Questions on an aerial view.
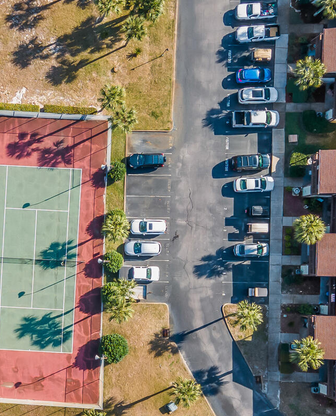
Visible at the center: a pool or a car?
car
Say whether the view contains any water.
No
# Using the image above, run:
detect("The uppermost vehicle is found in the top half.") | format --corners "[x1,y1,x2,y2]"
[234,0,280,22]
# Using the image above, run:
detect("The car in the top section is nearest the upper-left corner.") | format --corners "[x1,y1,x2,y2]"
[128,151,167,169]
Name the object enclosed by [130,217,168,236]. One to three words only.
car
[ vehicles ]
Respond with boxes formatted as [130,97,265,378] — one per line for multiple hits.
[246,48,270,63]
[230,108,280,128]
[118,264,160,284]
[238,85,278,105]
[241,223,267,234]
[233,241,269,258]
[232,153,269,171]
[234,0,280,22]
[240,205,263,216]
[130,217,168,236]
[243,287,268,297]
[236,66,270,84]
[233,175,274,193]
[128,151,167,169]
[124,239,162,257]
[234,23,282,44]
